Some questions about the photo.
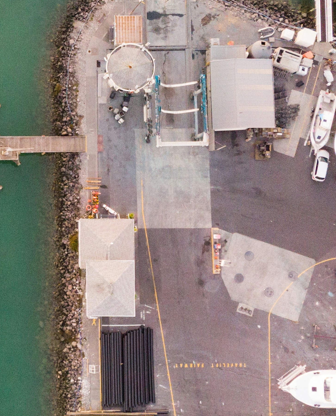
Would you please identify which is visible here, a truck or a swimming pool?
truck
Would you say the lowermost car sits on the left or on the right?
right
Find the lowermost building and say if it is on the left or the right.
left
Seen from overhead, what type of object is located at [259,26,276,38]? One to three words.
boat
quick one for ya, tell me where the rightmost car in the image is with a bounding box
[309,150,331,183]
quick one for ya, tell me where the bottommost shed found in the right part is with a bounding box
[174,59,275,132]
